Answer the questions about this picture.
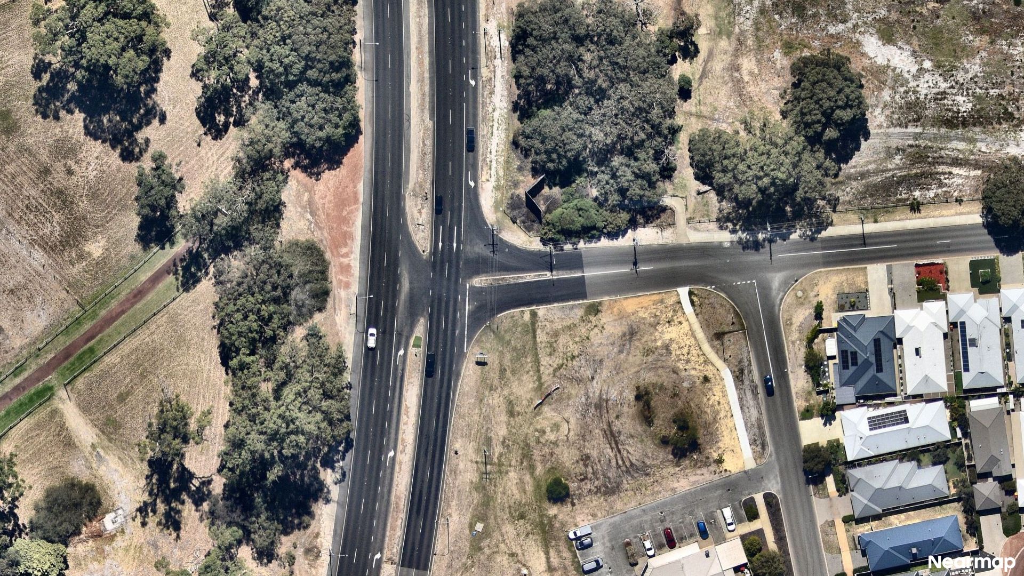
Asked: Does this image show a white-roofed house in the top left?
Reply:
No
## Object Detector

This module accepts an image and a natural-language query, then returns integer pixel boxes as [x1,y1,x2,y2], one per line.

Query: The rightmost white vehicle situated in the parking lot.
[721,506,735,531]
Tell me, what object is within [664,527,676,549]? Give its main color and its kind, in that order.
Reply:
red vehicle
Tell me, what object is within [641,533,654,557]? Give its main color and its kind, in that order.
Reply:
white vehicle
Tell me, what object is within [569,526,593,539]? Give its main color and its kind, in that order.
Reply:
white vehicle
